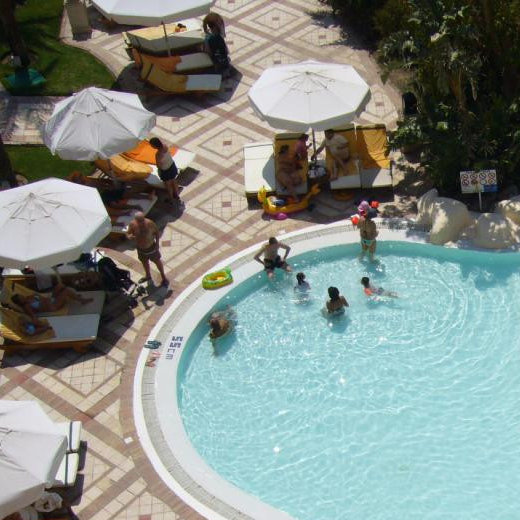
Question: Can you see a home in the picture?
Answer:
No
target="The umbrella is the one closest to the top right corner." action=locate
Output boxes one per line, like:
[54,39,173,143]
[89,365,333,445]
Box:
[247,58,374,167]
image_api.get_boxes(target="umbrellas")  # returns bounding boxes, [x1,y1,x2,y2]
[0,170,114,293]
[247,58,374,167]
[0,404,63,520]
[41,66,162,169]
[106,0,218,59]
